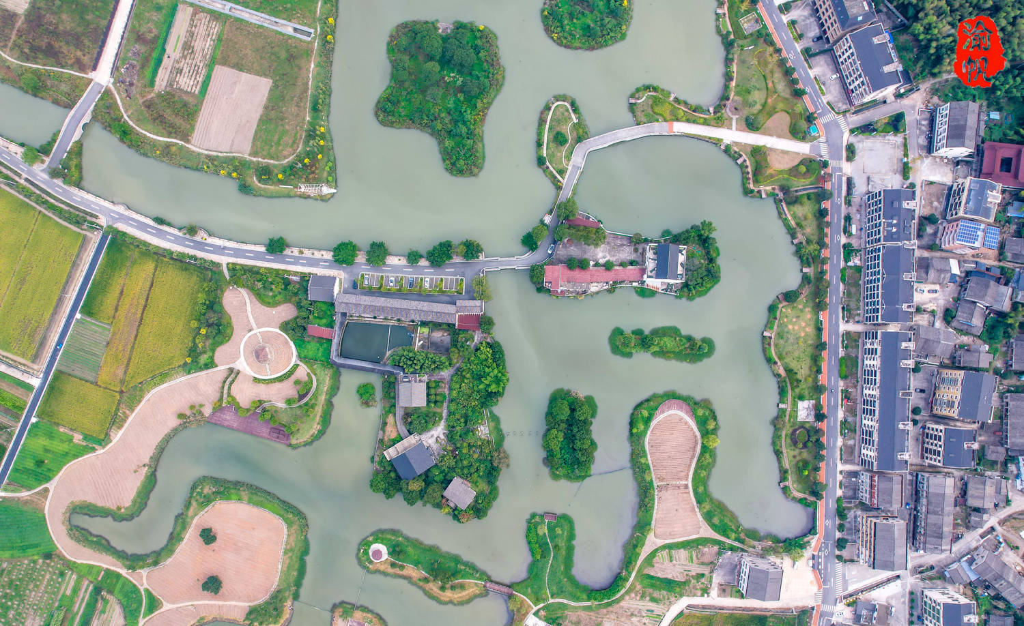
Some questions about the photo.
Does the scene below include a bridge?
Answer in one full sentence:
Yes, I can see a bridge in this picture.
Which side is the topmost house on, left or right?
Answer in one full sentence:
The topmost house appears in the right half of the scene.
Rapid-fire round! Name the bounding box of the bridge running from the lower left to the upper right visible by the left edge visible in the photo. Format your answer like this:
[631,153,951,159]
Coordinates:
[46,79,105,167]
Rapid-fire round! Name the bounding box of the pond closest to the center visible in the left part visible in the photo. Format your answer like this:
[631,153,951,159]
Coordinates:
[342,322,414,362]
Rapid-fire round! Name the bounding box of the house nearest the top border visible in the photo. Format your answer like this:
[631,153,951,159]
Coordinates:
[808,0,878,45]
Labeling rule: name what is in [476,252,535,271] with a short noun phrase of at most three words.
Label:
bridge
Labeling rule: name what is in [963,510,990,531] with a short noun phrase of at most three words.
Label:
shed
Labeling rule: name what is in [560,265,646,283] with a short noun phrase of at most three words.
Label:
building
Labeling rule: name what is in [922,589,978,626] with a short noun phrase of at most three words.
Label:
house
